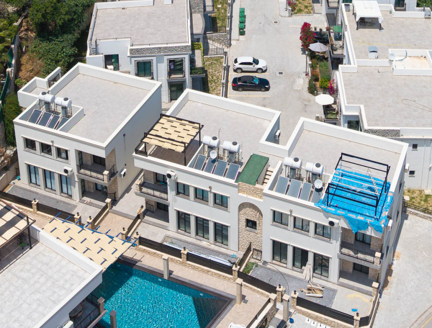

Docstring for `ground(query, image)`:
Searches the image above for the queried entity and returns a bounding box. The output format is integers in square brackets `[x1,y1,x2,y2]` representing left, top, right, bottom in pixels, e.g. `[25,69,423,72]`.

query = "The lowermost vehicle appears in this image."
[233,75,270,92]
